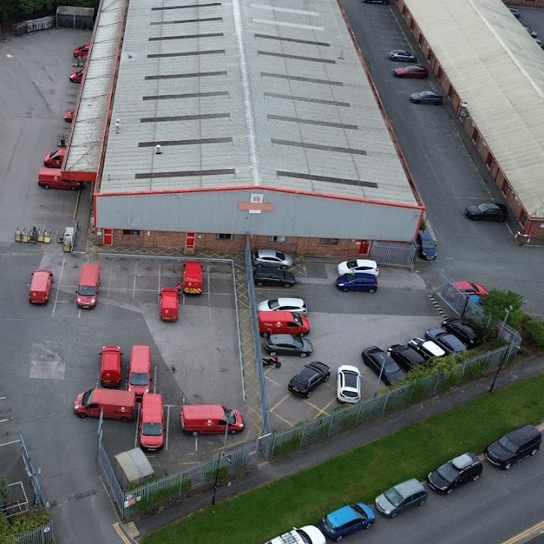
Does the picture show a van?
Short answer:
Yes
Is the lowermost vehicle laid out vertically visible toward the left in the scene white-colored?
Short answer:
No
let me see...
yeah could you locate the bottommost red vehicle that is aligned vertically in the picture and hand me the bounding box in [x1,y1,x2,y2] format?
[138,390,165,448]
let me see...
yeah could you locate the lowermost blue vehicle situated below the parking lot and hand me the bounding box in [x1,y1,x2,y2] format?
[320,505,373,543]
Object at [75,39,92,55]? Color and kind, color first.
red vehicle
